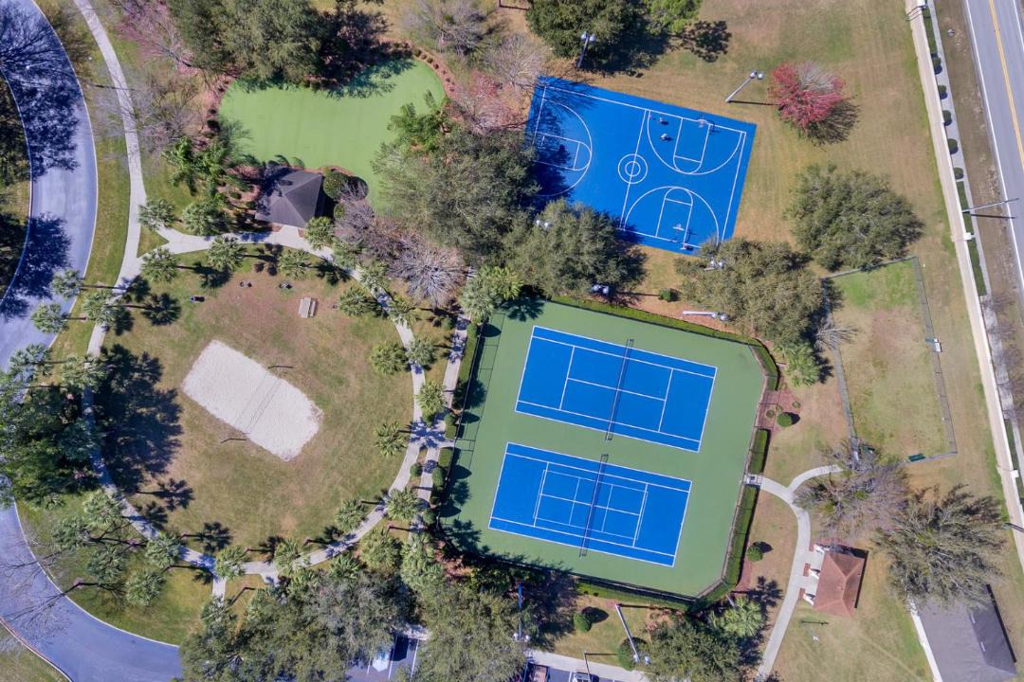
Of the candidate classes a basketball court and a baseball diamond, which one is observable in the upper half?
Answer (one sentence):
Looking in the upper half, you will find a basketball court.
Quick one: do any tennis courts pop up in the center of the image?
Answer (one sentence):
Yes, the scene does show a tennis court in the center of the image.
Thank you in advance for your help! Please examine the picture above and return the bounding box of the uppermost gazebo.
[255,165,324,228]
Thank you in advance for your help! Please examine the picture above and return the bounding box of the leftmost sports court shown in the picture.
[180,338,326,464]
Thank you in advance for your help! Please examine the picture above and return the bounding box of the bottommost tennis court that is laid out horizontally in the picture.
[489,443,692,566]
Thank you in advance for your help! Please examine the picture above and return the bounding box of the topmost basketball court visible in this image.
[509,75,758,259]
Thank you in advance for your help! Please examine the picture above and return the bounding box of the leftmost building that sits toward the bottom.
[800,542,865,618]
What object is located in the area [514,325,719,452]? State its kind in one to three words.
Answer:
tennis court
